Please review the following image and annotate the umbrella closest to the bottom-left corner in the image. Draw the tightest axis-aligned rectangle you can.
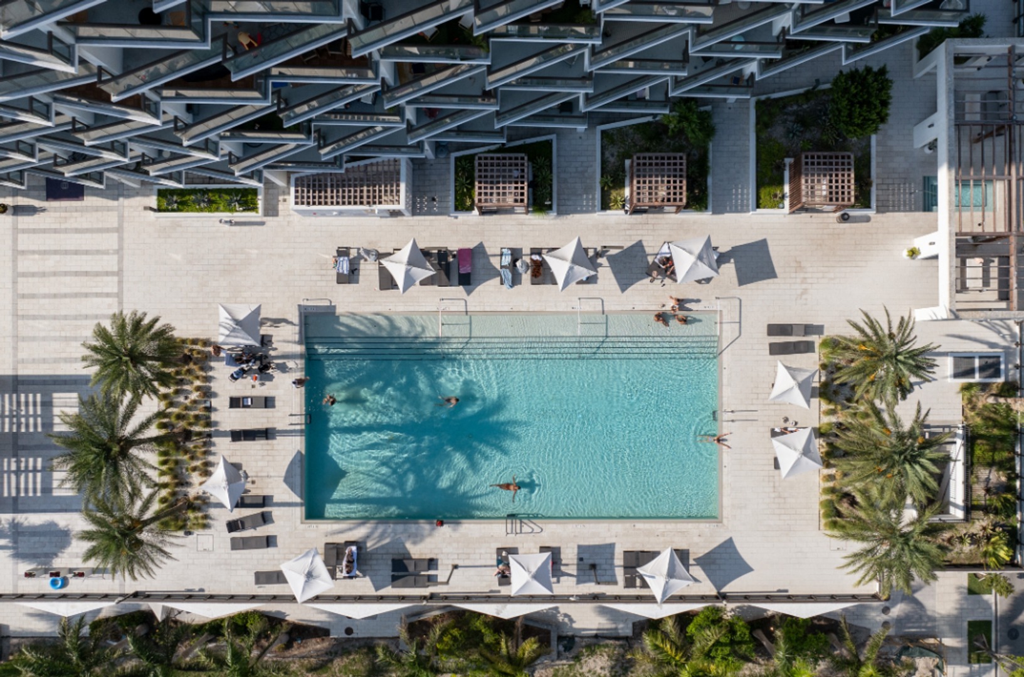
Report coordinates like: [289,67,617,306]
[201,457,245,511]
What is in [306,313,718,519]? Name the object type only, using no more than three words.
swimming pool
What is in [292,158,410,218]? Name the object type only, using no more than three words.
building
